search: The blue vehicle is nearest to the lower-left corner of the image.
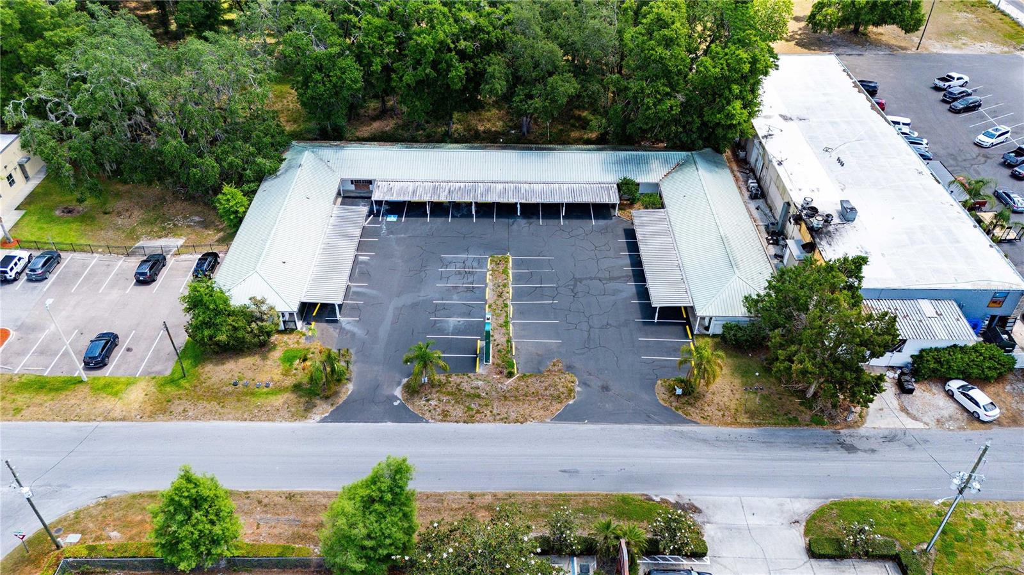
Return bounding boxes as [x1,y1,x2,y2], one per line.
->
[85,327,125,364]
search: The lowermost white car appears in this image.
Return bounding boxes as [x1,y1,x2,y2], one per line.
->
[938,379,1000,420]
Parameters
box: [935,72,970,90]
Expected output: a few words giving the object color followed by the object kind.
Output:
white vehicle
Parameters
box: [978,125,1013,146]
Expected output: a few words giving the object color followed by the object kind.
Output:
white car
